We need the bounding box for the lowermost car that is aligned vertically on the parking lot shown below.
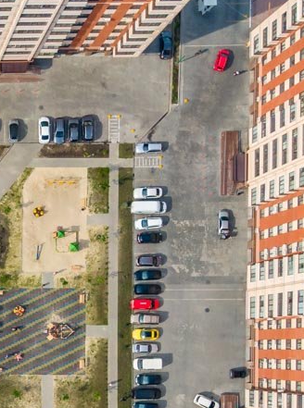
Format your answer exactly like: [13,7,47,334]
[217,209,232,241]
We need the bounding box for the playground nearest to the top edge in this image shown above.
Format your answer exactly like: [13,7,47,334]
[23,167,88,273]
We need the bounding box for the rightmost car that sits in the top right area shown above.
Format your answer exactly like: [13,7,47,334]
[214,48,230,73]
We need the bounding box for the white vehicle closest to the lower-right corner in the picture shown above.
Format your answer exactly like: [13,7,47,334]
[192,394,220,408]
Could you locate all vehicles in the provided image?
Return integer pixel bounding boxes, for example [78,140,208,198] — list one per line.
[132,186,163,199]
[192,394,220,408]
[132,400,159,408]
[83,117,96,141]
[214,48,230,73]
[136,231,162,244]
[131,328,160,341]
[53,117,66,144]
[134,216,164,229]
[130,297,160,310]
[130,199,167,214]
[132,357,165,371]
[228,367,253,379]
[131,387,161,400]
[134,283,163,295]
[135,373,162,386]
[136,254,162,267]
[38,117,51,144]
[136,141,162,154]
[217,209,232,241]
[160,31,174,59]
[9,119,21,143]
[132,342,157,353]
[134,268,162,281]
[130,313,160,326]
[68,119,80,142]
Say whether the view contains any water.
No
